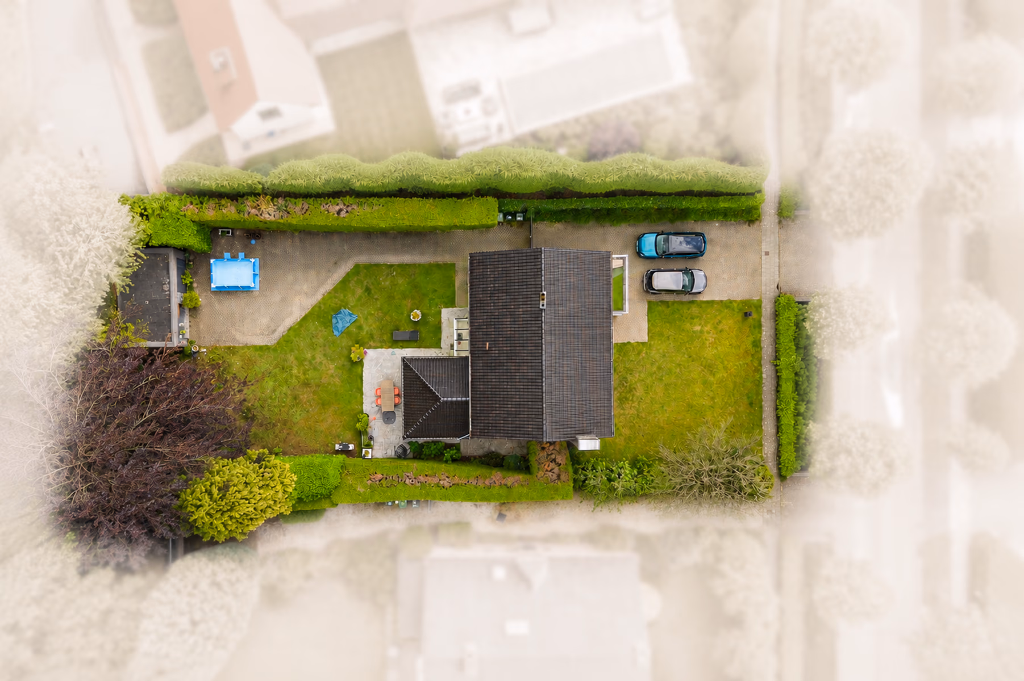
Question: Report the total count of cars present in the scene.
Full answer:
My tally gives 2 cars in this view.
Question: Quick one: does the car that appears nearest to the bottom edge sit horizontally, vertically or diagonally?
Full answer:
In this picture, the car that appears nearest to the bottom edge is oriented horizontally.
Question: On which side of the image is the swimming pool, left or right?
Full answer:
It is on the left.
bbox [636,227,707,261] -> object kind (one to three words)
car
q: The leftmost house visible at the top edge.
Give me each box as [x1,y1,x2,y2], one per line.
[186,0,338,131]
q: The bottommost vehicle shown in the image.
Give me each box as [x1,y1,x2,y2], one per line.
[643,265,707,297]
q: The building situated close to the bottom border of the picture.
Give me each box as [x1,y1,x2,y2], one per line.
[399,537,670,681]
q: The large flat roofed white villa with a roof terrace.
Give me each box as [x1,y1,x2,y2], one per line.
[410,0,693,153]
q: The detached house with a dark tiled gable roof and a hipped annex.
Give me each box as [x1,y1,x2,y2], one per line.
[400,247,627,449]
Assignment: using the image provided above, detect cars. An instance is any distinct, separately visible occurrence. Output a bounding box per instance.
[636,227,707,261]
[643,265,707,297]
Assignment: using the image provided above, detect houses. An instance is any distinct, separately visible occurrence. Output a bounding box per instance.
[410,0,693,153]
[186,0,338,131]
[399,537,670,681]
[400,247,627,449]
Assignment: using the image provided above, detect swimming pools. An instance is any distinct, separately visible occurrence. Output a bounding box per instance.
[208,253,259,290]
